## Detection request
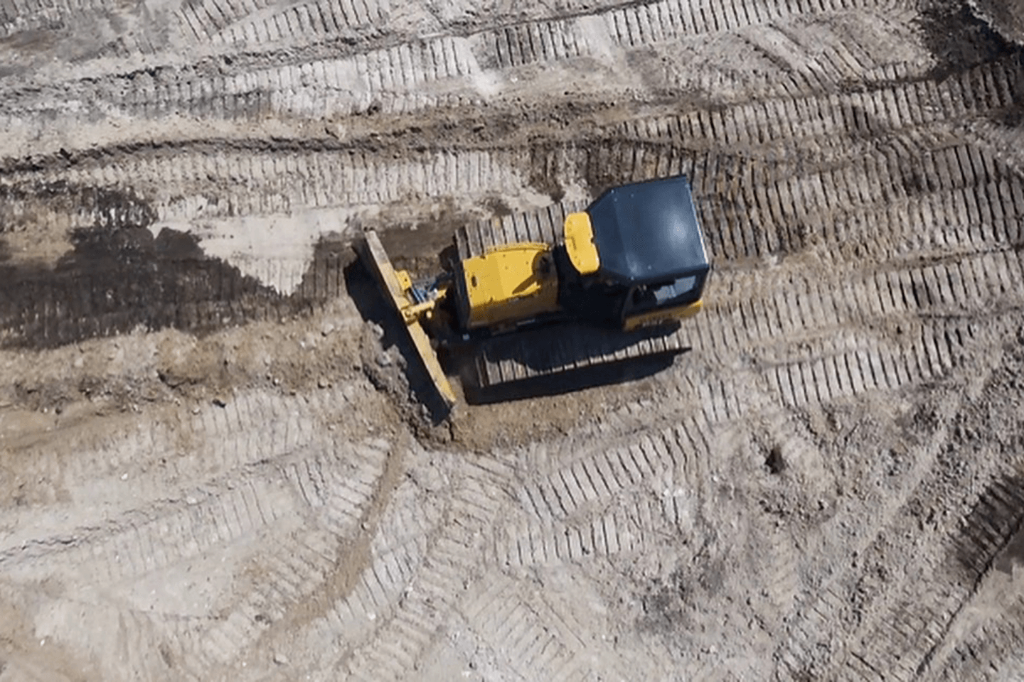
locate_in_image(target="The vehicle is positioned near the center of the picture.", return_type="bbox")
[364,176,713,418]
